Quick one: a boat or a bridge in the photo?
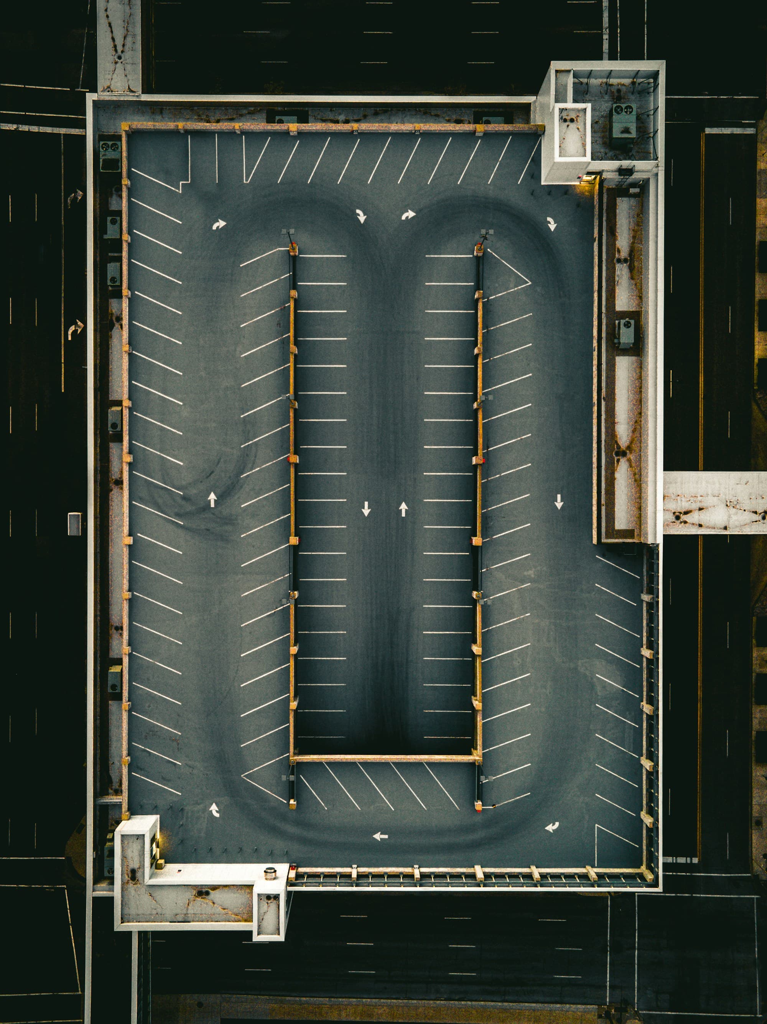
bridge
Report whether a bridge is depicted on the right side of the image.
Yes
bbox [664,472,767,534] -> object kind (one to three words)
bridge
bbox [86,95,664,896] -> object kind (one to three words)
building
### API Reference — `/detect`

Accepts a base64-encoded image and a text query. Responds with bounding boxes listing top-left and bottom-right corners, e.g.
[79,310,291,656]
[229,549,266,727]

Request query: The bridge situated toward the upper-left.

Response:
[97,0,150,101]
